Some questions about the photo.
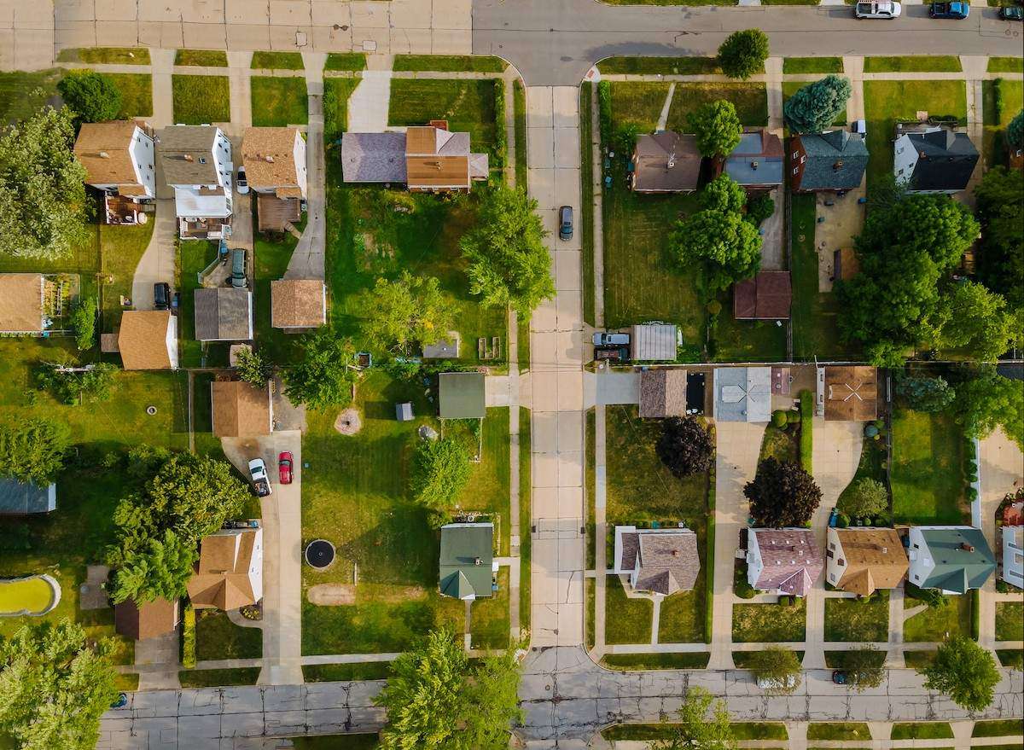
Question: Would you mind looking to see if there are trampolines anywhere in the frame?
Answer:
Yes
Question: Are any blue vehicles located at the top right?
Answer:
Yes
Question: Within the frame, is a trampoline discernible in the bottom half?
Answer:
Yes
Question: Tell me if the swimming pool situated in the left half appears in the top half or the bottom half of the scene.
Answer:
bottom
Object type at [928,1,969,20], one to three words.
vehicle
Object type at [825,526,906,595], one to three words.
house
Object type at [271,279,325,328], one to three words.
building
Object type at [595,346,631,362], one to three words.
vehicle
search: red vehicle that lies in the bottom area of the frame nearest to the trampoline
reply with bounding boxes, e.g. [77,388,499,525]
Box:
[277,451,293,485]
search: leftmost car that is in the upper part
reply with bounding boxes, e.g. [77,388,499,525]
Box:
[153,282,171,311]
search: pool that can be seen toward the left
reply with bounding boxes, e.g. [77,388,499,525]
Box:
[0,573,62,616]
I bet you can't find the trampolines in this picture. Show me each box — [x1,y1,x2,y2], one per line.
[306,540,335,568]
